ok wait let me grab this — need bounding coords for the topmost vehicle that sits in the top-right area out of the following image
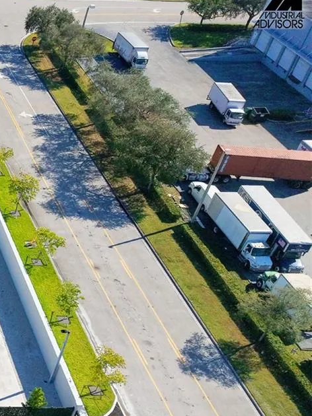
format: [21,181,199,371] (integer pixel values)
[209,84,247,129]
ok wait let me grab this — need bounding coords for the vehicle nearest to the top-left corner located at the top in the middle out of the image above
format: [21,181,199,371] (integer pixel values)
[115,33,149,71]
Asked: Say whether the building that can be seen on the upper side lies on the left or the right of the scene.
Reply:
right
